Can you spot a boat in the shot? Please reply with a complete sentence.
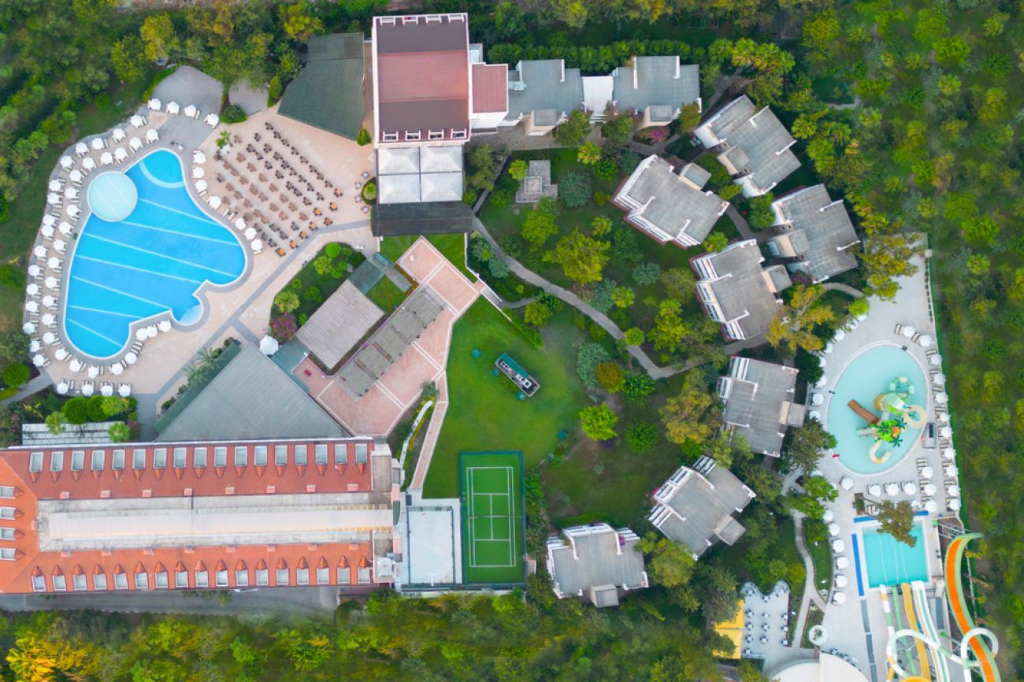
No, the scene contains no boat.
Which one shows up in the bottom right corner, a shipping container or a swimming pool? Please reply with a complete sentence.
You can see a swimming pool in the bottom right corner.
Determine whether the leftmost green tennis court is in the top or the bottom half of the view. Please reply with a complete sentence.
The leftmost green tennis court sits in the bottom half of the picture.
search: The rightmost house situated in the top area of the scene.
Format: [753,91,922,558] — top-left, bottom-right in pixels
[768,184,863,287]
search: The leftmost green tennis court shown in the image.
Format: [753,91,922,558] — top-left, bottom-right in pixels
[459,451,526,589]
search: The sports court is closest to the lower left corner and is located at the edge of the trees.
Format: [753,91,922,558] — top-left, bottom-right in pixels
[406,506,456,587]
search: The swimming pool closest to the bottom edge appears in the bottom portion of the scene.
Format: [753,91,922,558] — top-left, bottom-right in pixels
[856,515,935,594]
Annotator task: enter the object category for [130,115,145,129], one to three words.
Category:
umbrella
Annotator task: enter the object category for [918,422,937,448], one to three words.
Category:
building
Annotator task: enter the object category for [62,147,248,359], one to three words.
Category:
swimming pool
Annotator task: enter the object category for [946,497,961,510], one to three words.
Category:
umbrella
